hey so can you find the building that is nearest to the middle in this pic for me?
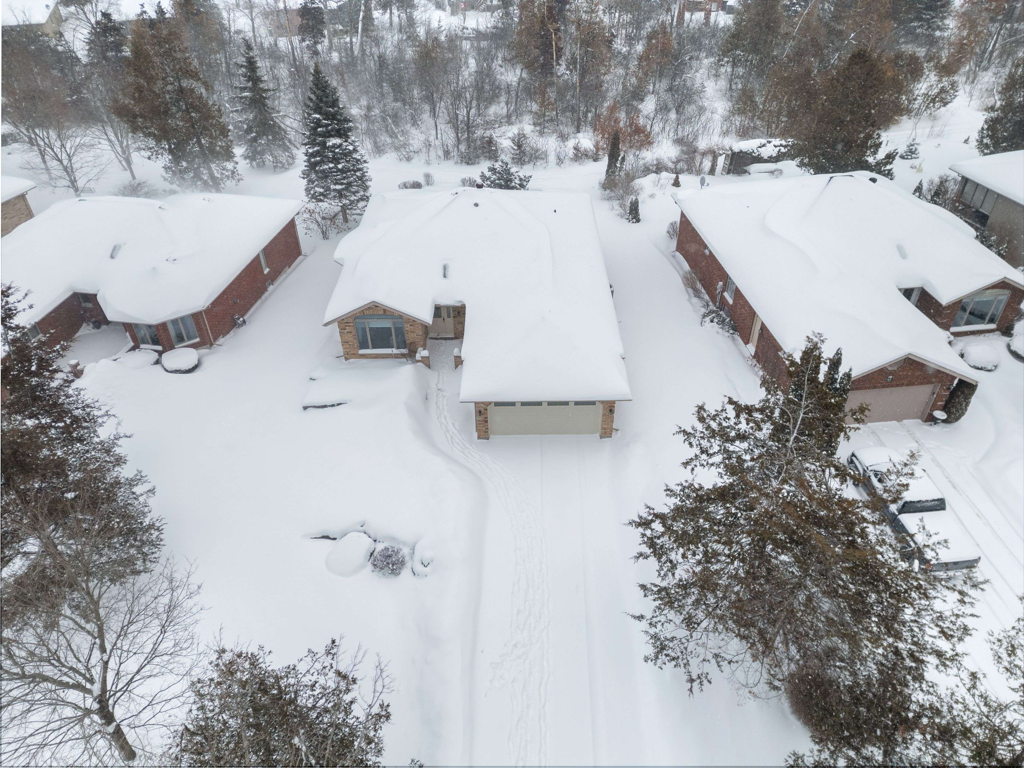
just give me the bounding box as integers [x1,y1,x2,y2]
[323,176,634,441]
